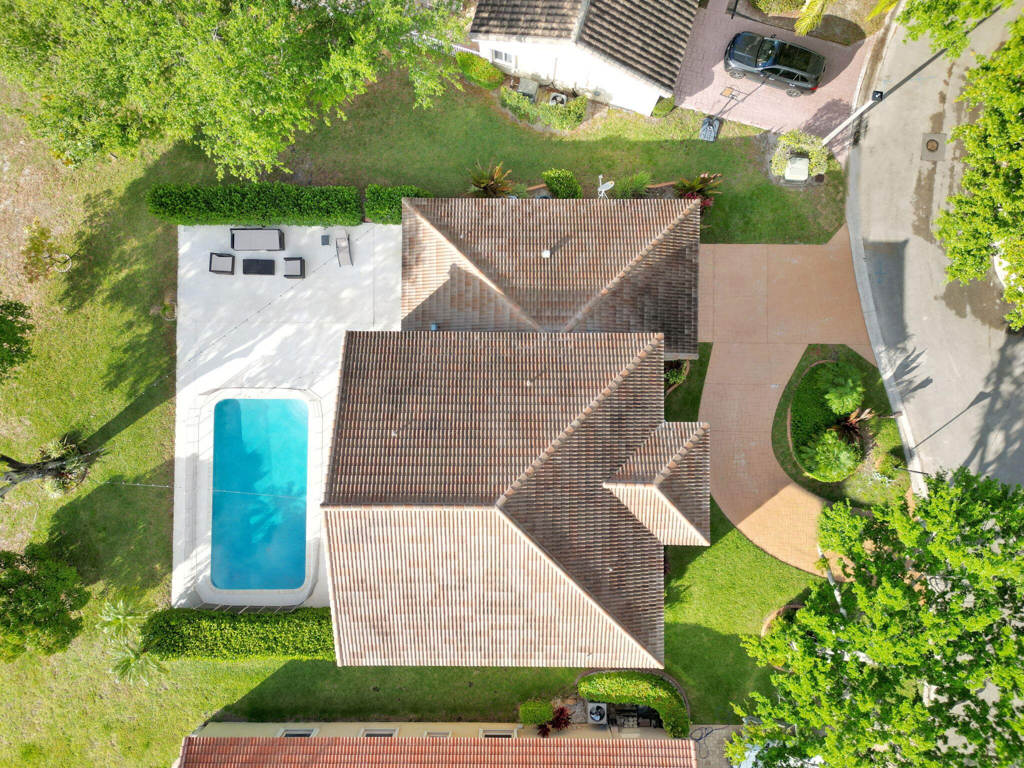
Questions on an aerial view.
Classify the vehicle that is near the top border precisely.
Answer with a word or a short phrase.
car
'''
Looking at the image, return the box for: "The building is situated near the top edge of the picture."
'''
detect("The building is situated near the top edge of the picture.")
[468,0,702,110]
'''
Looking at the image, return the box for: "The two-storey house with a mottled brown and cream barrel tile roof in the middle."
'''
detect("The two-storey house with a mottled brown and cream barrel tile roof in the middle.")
[319,196,714,671]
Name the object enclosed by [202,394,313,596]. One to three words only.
swimming pool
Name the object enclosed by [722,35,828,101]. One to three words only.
car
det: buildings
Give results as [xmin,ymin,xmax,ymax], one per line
[176,724,702,768]
[319,196,714,671]
[468,0,702,110]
